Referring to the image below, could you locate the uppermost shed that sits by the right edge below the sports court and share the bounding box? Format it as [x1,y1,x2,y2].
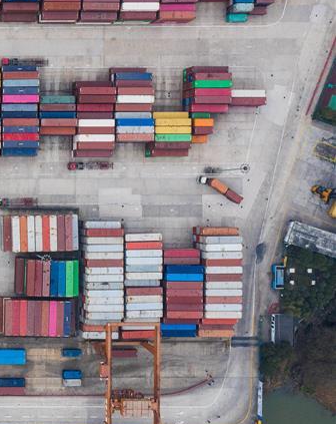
[279,220,336,258]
